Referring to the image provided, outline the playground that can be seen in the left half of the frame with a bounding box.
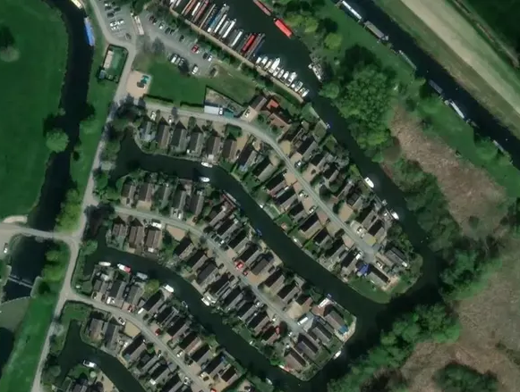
[125,69,150,97]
